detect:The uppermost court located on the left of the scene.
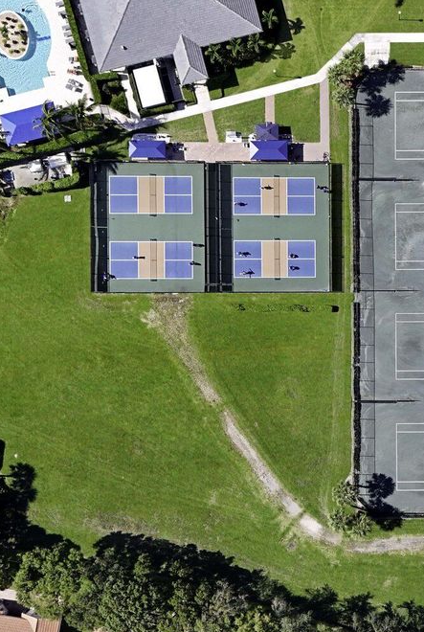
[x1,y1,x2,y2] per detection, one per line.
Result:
[95,163,204,227]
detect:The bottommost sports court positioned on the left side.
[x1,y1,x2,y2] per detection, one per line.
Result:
[95,227,204,292]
